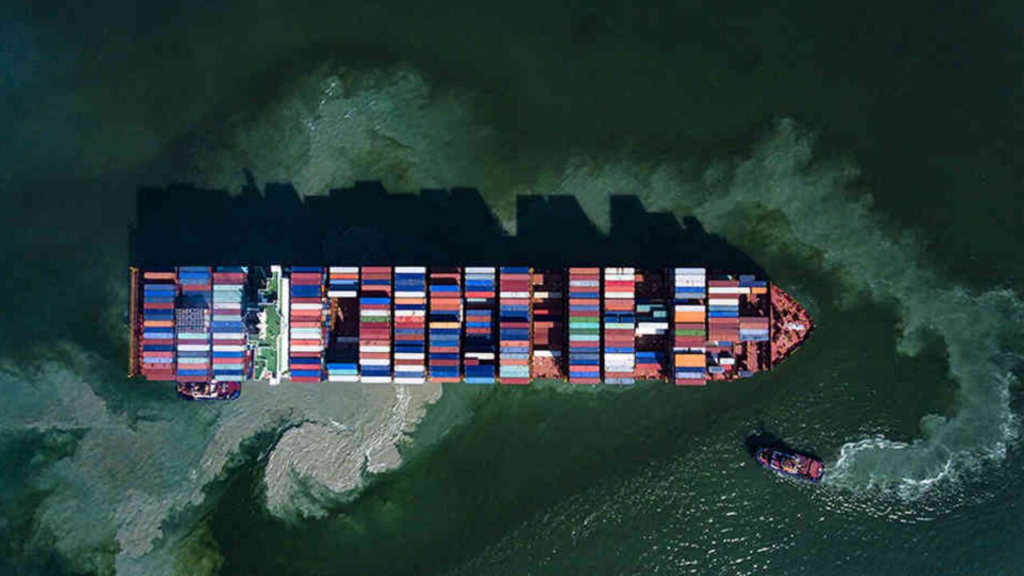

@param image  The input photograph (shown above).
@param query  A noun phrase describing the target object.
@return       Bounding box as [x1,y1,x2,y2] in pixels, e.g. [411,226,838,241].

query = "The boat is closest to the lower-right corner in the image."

[756,448,828,485]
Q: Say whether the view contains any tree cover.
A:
No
